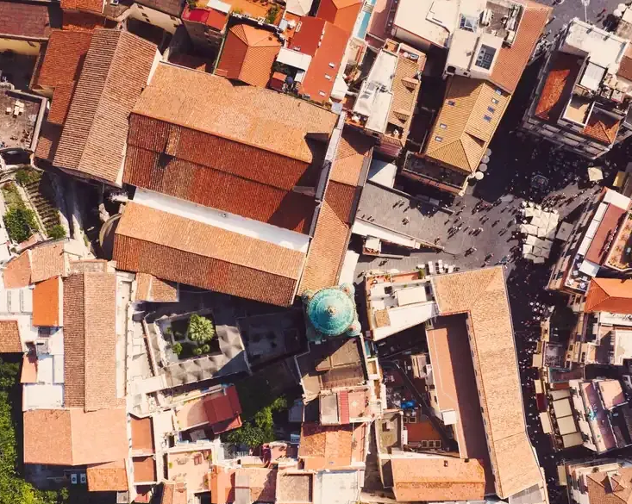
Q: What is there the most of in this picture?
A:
buildings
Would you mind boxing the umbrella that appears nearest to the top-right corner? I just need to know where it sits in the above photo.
[587,167,601,181]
